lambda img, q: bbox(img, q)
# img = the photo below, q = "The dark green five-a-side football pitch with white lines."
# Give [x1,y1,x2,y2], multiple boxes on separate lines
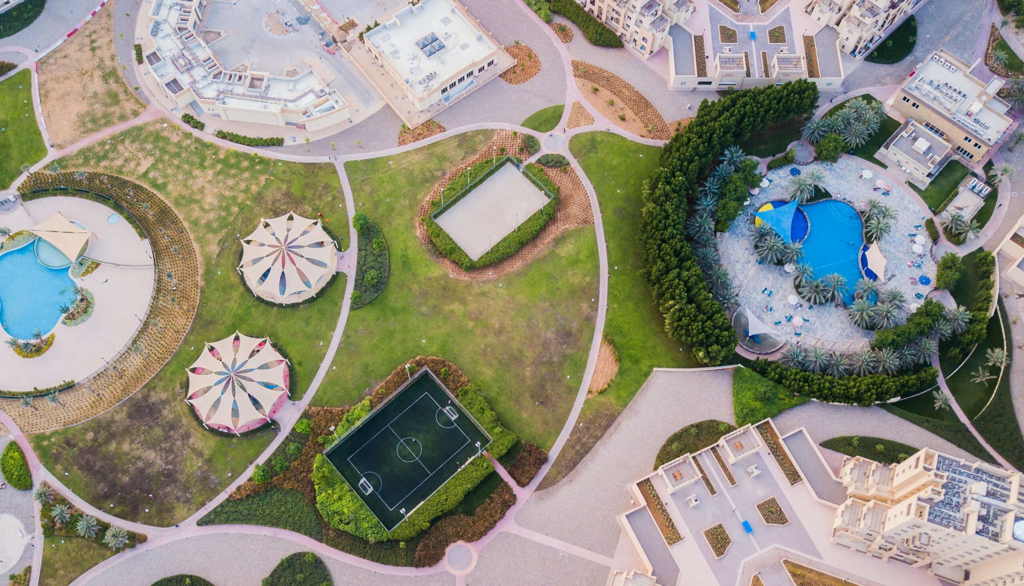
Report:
[326,372,491,530]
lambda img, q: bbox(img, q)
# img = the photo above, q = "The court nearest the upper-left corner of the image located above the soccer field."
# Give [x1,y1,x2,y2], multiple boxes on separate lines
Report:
[436,162,548,260]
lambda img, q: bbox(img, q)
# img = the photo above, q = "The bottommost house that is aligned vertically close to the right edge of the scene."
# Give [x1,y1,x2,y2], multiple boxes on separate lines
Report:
[989,215,1024,298]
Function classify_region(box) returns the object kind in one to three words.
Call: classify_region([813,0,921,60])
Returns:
building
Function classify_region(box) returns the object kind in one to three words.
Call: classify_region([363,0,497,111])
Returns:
building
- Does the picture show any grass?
Yes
